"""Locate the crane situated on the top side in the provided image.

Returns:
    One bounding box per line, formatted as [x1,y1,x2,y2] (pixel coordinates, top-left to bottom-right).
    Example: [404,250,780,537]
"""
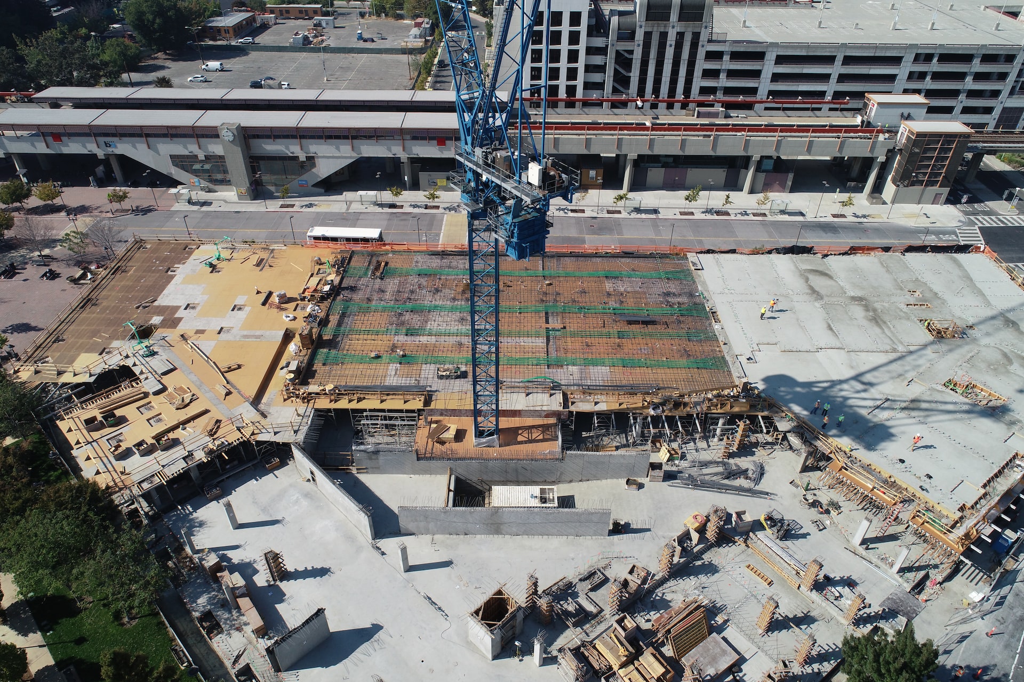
[430,0,597,439]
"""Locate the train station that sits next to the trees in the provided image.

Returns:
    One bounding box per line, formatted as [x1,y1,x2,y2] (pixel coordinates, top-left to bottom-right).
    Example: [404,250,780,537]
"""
[0,81,896,192]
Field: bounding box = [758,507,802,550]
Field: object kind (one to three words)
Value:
work vehicle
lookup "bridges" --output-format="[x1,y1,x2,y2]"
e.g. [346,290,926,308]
[953,118,1024,182]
